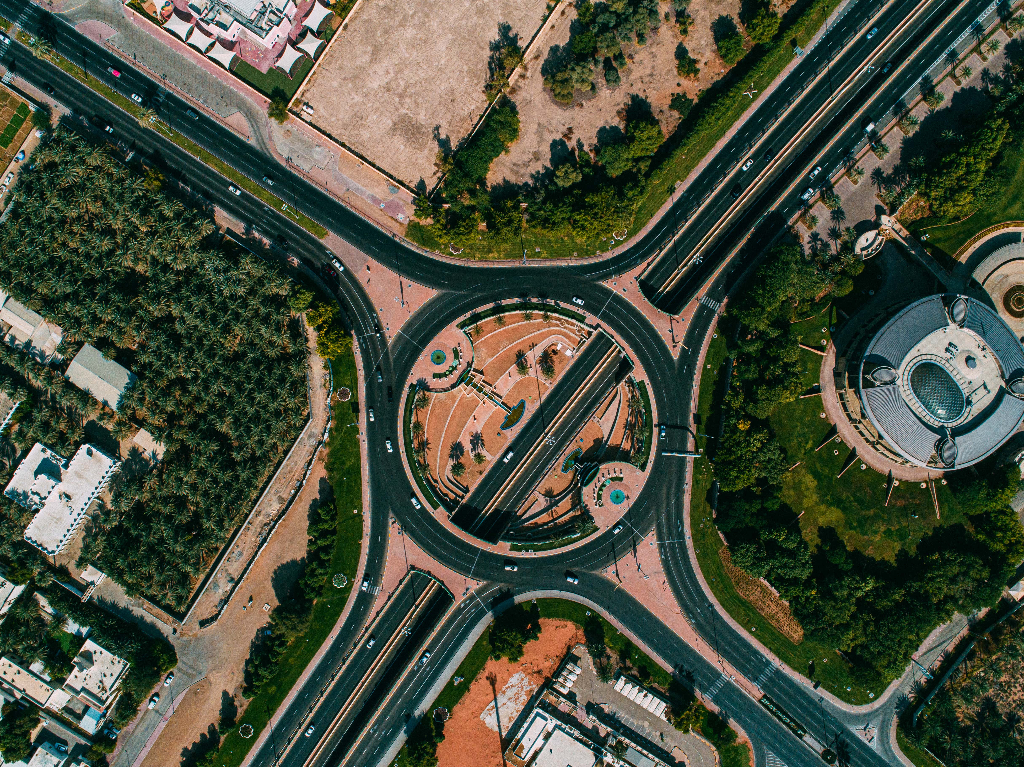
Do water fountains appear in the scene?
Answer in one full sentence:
Yes, the photo shows a water fountain.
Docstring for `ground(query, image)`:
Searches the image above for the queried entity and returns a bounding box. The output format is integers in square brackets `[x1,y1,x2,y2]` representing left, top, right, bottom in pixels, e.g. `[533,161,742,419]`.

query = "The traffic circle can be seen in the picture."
[366,265,690,589]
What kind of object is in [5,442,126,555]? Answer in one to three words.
house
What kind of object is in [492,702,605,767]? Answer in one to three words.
building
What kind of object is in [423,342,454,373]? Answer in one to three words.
fountain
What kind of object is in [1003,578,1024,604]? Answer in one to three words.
tent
